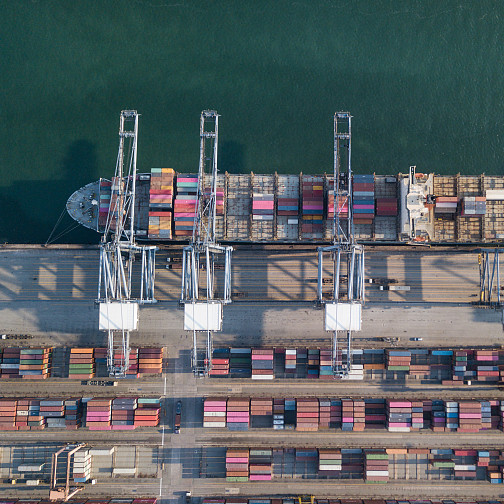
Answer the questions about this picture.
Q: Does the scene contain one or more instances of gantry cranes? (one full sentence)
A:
Yes, looking at the shot, I can spot a gantry crane.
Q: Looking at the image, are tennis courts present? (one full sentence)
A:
No, there's no tennis court here.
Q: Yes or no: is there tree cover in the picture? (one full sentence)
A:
No, there is no tree cover in the image.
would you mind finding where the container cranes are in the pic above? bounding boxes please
[96,109,178,375]
[179,110,250,376]
[49,444,88,502]
[470,237,504,334]
[313,110,369,376]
